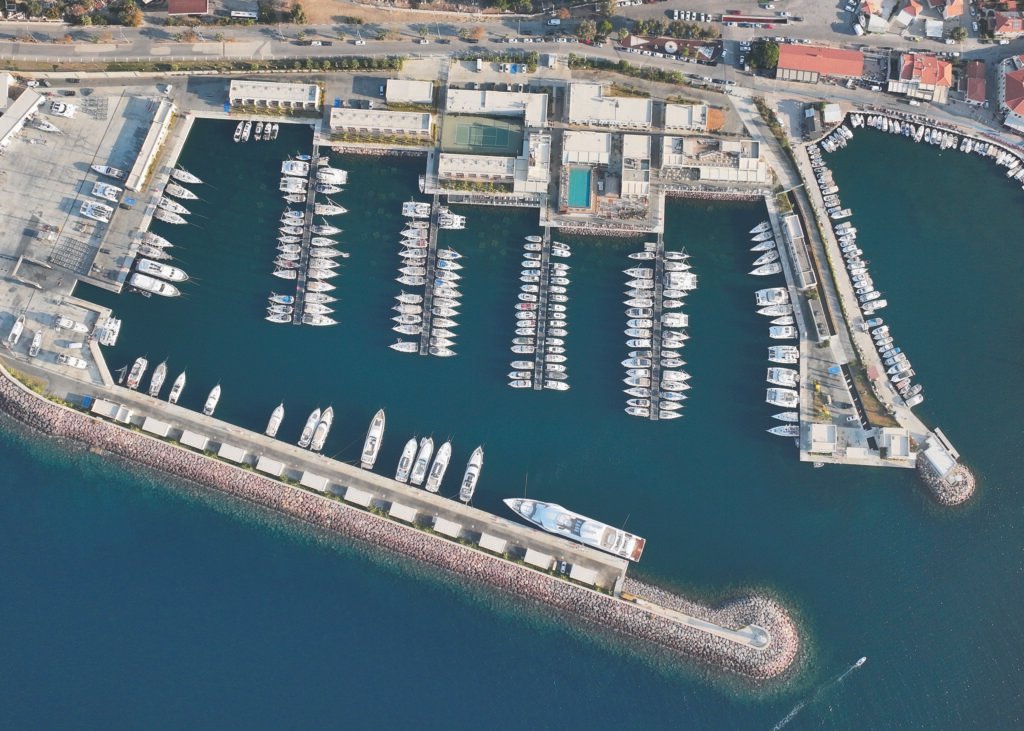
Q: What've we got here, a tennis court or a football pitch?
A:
tennis court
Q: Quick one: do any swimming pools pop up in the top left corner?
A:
No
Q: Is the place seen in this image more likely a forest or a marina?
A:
marina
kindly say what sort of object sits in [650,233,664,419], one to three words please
pier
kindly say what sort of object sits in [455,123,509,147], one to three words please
tennis court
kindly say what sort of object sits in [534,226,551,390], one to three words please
pier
